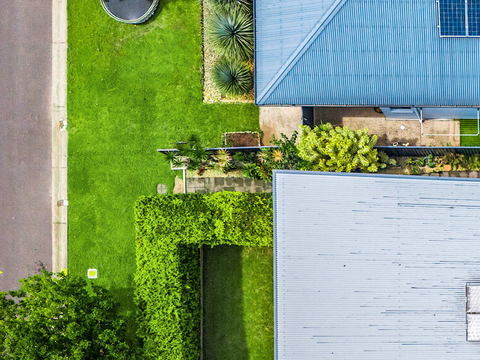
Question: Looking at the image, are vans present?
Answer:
No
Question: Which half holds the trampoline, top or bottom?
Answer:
top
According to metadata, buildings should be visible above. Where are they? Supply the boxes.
[275,169,480,360]
[252,0,480,122]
